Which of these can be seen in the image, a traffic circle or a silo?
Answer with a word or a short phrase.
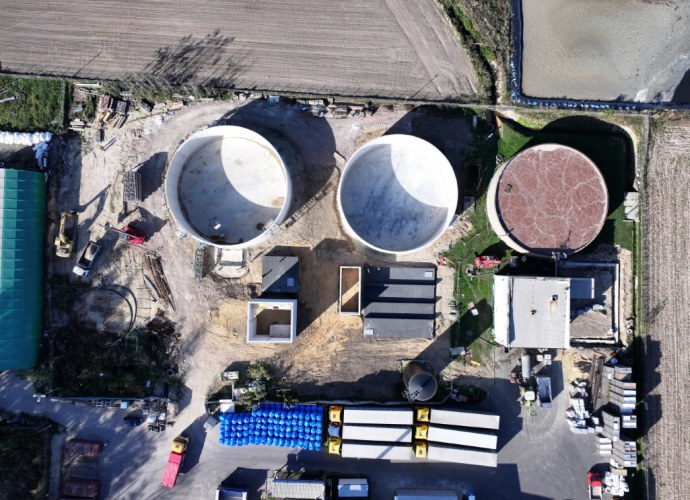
silo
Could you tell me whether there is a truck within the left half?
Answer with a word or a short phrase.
Yes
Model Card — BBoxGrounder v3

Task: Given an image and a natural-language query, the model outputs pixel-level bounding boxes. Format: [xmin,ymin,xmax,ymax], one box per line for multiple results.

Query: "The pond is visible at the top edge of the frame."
[511,0,690,111]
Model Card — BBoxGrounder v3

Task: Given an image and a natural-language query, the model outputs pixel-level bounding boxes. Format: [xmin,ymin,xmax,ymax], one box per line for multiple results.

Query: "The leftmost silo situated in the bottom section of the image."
[400,358,437,402]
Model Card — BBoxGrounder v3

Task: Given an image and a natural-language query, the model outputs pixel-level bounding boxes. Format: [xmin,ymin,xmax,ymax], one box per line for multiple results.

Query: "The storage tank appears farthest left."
[166,125,293,247]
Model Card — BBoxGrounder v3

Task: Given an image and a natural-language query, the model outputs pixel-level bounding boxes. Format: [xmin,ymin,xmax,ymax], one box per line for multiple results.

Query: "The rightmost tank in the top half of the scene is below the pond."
[487,144,608,256]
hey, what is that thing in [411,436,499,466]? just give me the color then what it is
white truck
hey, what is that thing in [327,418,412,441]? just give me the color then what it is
white truck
